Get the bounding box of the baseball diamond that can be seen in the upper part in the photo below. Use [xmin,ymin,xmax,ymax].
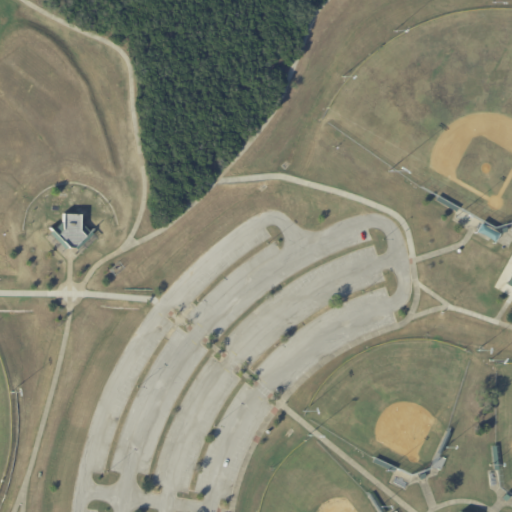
[324,8,512,226]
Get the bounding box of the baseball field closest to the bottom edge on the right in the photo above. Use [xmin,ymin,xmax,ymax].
[260,440,378,512]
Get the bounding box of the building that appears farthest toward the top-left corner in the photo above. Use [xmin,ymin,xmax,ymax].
[48,214,98,250]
